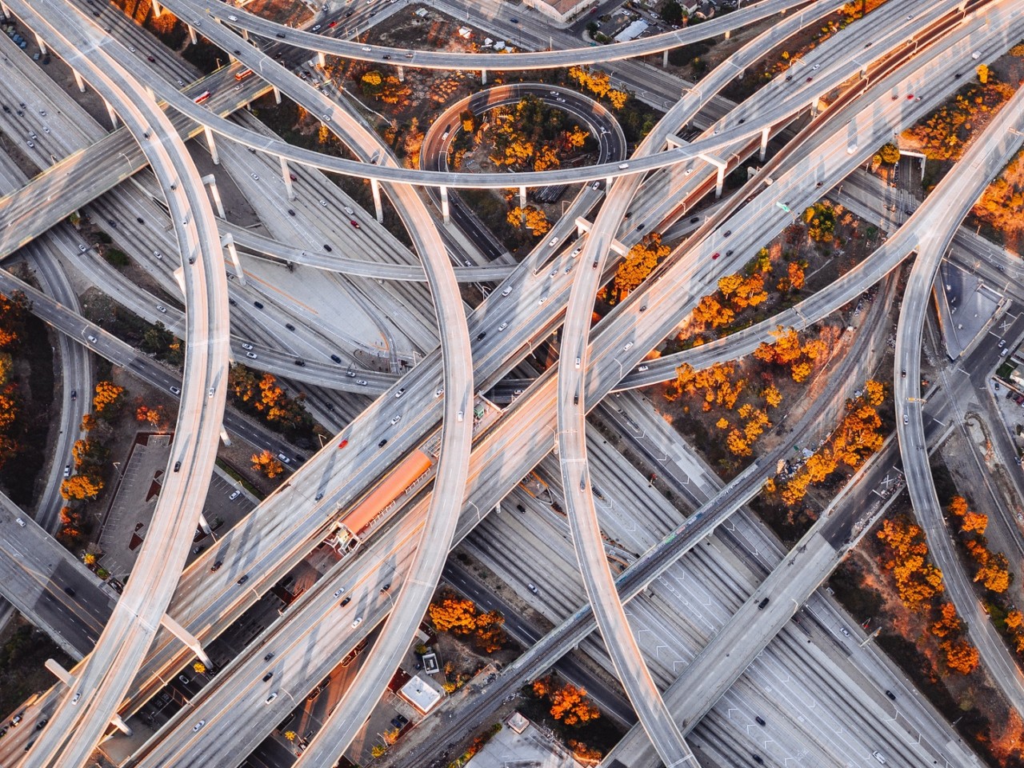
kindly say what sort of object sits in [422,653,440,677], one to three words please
building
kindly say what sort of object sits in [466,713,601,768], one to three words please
building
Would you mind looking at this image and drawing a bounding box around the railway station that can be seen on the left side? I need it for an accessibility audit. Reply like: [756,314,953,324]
[331,428,441,560]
